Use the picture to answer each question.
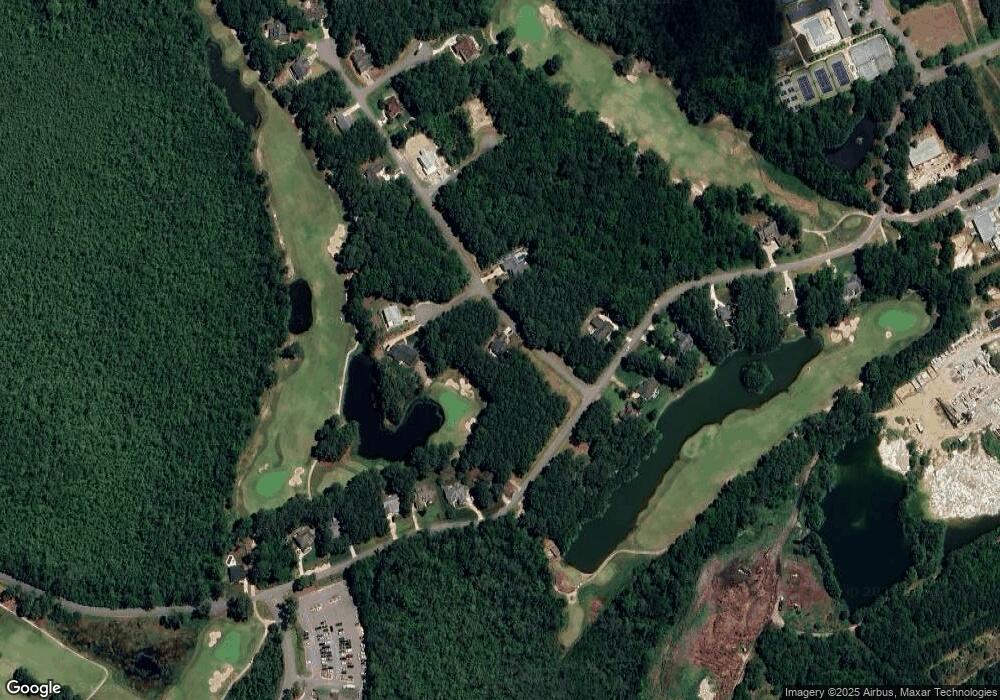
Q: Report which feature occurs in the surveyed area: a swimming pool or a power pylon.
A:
swimming pool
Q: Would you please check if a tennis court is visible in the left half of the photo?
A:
No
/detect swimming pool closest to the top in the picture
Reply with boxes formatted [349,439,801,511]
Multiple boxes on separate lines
[791,9,842,50]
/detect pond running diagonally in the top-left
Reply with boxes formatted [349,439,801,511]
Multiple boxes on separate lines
[207,40,262,127]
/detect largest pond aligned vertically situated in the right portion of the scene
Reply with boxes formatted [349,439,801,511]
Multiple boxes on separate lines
[821,433,908,611]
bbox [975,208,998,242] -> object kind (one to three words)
building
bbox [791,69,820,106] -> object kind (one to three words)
tennis court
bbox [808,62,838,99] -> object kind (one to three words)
tennis court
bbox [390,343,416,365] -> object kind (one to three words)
house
